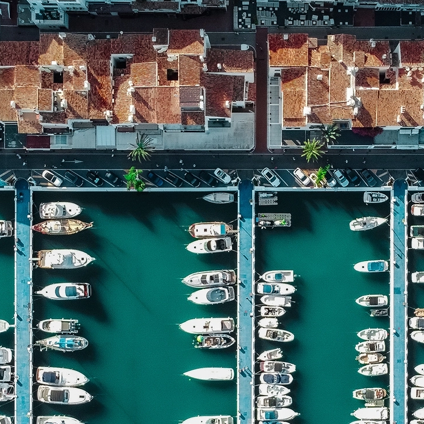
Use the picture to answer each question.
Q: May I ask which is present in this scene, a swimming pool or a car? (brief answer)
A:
car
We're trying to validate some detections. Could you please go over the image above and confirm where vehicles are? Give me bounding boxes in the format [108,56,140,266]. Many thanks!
[162,169,184,190]
[211,165,232,187]
[83,168,106,189]
[258,165,282,189]
[143,168,166,190]
[331,167,351,190]
[359,167,380,189]
[60,168,83,189]
[196,167,220,189]
[291,165,312,188]
[343,165,364,189]
[40,168,64,189]
[181,169,204,190]
[102,168,126,189]
[323,169,341,190]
